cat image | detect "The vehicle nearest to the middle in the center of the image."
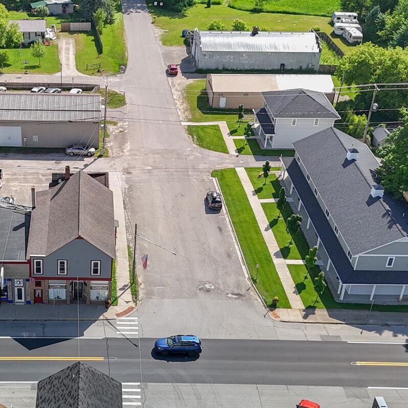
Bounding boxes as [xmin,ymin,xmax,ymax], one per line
[201,185,225,210]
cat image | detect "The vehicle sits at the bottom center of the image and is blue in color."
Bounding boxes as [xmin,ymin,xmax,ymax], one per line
[151,330,202,356]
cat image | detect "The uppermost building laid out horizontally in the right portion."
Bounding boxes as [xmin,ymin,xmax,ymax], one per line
[191,22,323,71]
